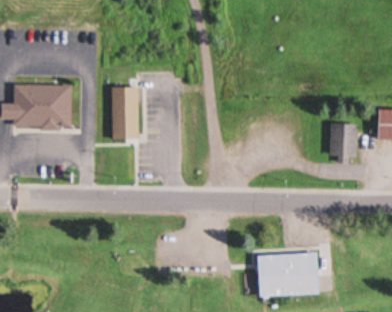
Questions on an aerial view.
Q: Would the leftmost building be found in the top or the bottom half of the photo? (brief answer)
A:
top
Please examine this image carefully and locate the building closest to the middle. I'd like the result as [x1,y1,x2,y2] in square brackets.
[112,87,138,140]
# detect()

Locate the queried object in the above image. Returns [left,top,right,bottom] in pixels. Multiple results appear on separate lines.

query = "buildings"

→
[330,123,357,168]
[112,87,138,140]
[378,110,392,141]
[0,85,72,129]
[246,252,320,304]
